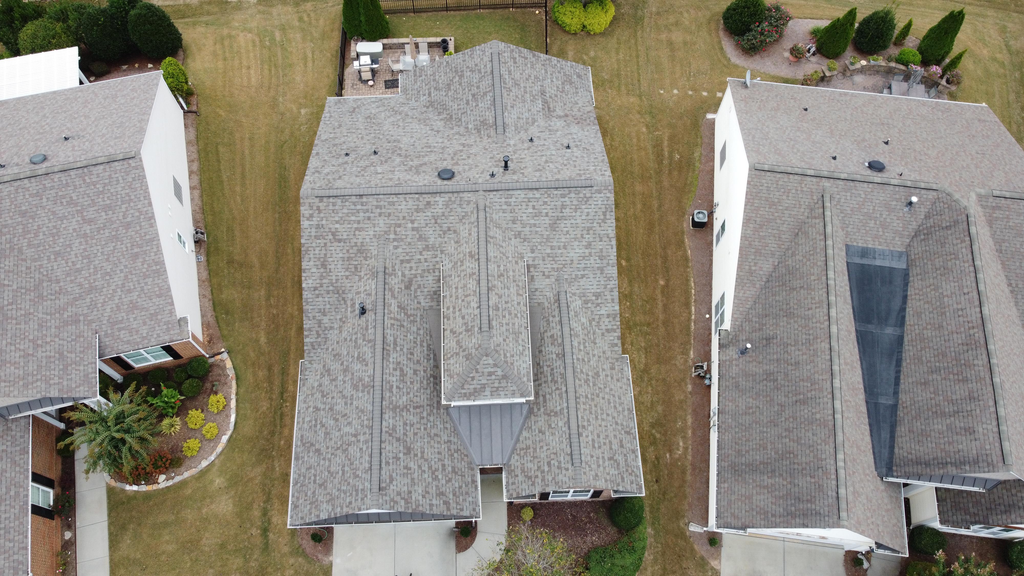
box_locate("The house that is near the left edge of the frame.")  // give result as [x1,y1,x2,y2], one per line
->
[0,71,212,576]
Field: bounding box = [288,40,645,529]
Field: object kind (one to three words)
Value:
house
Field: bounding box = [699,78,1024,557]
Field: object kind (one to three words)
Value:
house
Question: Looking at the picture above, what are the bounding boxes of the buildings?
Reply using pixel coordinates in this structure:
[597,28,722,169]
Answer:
[0,71,212,576]
[288,40,645,529]
[699,78,1024,557]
